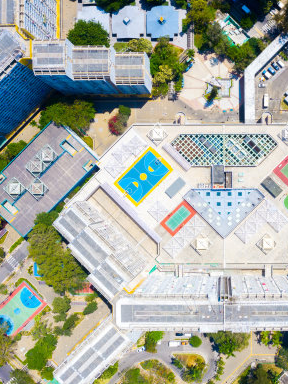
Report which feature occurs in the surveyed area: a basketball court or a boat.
basketball court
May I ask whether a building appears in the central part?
Yes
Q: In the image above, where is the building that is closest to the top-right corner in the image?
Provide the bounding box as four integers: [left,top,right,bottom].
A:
[220,15,250,48]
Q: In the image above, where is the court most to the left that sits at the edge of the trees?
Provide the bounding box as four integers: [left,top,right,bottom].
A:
[0,281,47,337]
